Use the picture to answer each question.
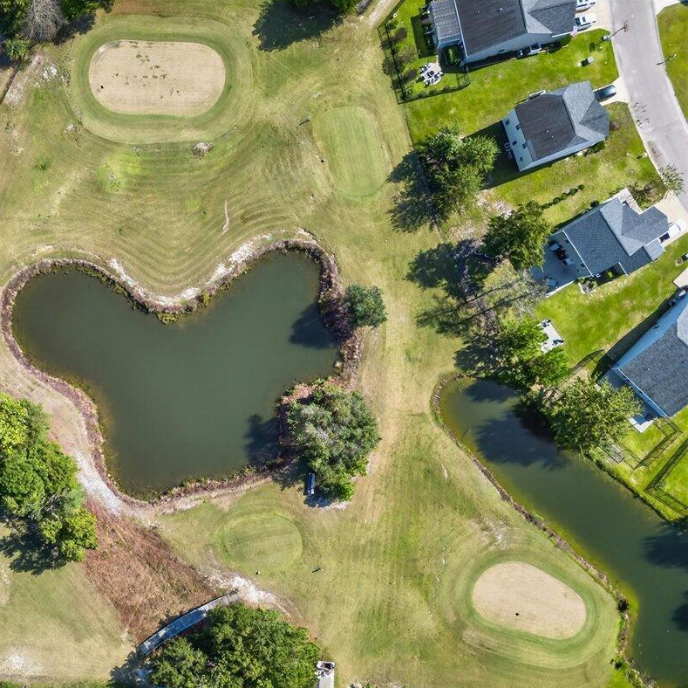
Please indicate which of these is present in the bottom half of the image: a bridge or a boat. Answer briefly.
bridge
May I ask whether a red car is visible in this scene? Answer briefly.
No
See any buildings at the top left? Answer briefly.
No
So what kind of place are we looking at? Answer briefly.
golf course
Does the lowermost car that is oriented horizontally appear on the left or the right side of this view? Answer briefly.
right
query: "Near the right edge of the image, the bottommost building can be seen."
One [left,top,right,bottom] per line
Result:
[609,294,688,417]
